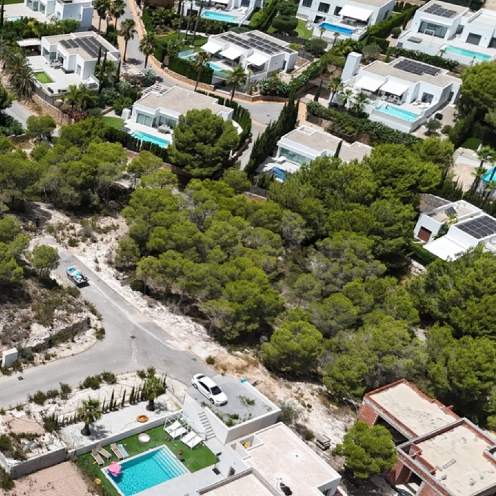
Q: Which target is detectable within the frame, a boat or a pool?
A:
pool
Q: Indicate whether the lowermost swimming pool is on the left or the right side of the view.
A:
left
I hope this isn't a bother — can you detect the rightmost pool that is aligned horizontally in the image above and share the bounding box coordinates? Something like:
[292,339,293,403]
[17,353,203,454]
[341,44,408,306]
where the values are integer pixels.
[440,44,494,58]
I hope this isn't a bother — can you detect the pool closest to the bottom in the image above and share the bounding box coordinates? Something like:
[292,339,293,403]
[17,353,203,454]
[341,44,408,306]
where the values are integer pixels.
[102,443,190,496]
